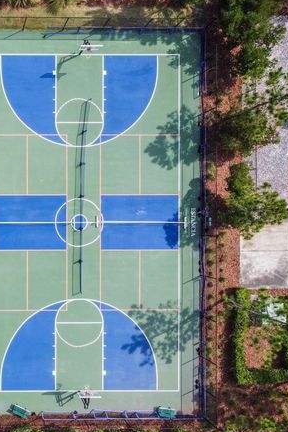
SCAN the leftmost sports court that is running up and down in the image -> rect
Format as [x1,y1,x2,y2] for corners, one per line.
[0,134,68,311]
